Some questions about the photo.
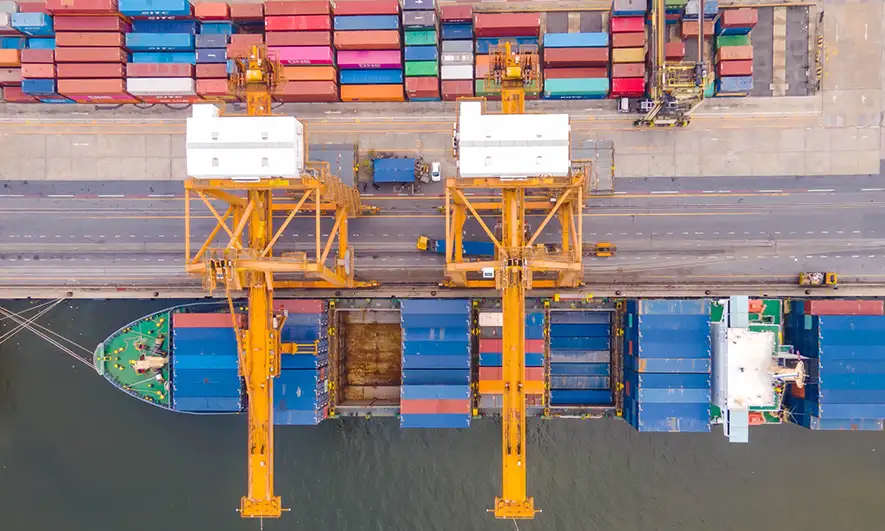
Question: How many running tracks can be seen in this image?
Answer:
0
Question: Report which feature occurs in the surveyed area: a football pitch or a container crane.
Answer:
container crane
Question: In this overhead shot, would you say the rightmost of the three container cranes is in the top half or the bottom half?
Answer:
top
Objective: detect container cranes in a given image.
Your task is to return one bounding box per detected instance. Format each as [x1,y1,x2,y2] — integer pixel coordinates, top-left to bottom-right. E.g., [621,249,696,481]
[636,0,710,126]
[436,35,596,531]
[181,38,380,530]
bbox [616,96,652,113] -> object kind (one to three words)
vehicle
